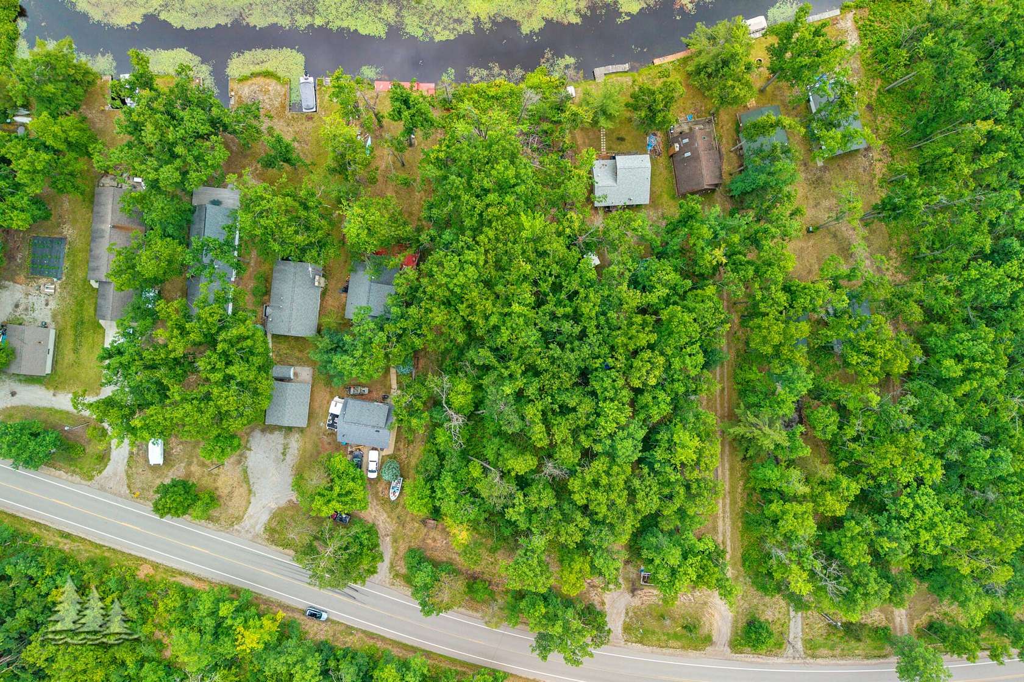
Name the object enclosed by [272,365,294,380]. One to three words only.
shed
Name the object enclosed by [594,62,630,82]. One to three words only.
pier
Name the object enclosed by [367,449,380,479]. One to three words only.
vehicle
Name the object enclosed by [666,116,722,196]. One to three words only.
house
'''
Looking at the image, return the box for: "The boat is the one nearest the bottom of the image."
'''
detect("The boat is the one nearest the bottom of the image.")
[391,474,404,502]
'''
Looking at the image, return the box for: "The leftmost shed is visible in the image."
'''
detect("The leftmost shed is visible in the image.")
[0,324,58,375]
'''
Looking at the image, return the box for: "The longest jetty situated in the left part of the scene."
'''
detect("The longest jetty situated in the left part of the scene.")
[375,80,435,95]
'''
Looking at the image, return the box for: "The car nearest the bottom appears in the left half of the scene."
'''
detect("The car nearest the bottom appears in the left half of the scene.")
[304,606,329,621]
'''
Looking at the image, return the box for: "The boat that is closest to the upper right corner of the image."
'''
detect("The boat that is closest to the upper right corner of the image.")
[740,15,766,34]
